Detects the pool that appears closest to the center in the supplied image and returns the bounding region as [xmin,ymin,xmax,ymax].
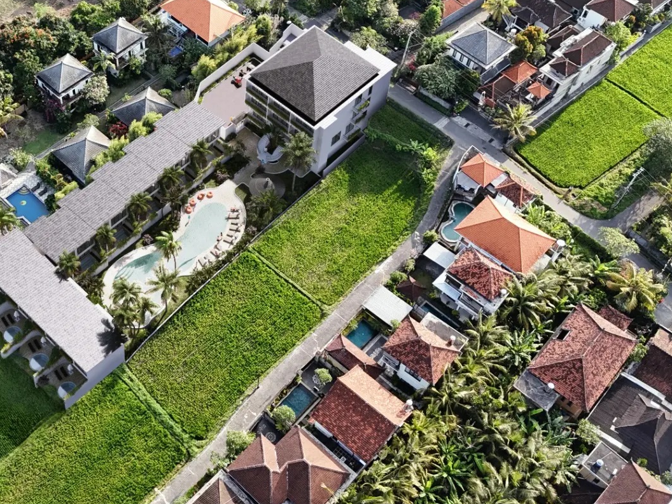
[344,319,380,351]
